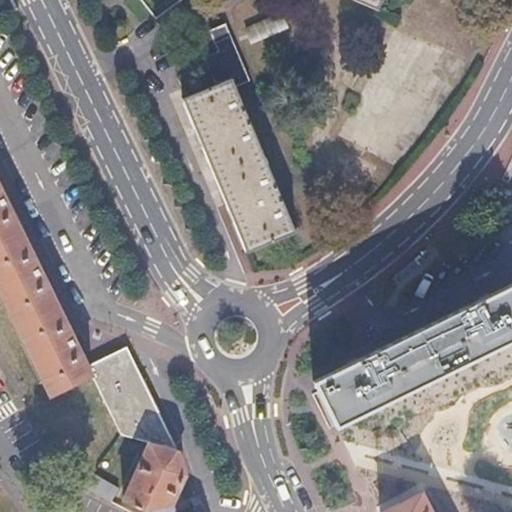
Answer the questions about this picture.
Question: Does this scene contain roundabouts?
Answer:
Yes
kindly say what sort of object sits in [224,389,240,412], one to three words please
car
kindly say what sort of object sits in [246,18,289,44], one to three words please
shed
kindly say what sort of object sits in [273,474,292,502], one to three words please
vehicle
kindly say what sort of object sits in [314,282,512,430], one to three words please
building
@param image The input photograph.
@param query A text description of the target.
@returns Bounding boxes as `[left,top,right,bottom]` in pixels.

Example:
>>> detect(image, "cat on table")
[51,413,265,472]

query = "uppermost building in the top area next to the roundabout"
[184,80,295,252]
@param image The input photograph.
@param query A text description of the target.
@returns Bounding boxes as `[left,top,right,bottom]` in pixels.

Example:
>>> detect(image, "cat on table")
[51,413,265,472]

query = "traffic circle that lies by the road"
[185,286,287,388]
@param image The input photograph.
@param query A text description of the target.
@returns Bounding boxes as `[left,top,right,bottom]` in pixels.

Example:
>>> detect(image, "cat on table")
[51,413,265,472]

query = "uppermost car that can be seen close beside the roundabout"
[172,286,191,308]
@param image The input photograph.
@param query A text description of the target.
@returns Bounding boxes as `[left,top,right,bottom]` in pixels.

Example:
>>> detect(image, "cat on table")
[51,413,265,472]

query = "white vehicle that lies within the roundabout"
[198,336,215,358]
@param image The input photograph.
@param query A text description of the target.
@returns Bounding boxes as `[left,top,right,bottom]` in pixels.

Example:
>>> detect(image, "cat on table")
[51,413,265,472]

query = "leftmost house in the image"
[0,182,96,400]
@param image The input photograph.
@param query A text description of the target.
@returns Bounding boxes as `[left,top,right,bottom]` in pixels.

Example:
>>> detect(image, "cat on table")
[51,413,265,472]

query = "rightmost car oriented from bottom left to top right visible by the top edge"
[134,20,156,40]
